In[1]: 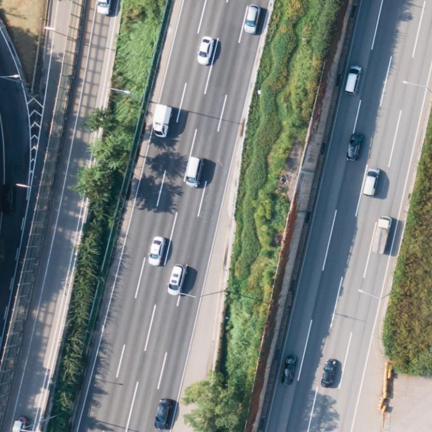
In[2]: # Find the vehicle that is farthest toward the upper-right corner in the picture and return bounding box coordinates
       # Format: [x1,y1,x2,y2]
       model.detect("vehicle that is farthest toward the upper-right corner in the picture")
[345,66,360,93]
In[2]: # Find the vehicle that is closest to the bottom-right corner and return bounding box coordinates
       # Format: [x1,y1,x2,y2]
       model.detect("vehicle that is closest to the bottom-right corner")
[321,359,337,387]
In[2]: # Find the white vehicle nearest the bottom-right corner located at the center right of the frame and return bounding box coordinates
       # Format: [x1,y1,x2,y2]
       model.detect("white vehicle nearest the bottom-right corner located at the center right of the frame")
[374,217,391,253]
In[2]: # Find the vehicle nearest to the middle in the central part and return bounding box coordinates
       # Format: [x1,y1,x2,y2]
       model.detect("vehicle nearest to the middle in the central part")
[183,158,201,187]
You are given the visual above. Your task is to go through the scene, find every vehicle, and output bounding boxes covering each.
[169,265,186,293]
[12,418,27,432]
[243,3,260,31]
[148,238,165,265]
[345,66,360,93]
[347,134,362,161]
[95,0,111,15]
[155,399,171,427]
[374,217,391,253]
[198,36,214,64]
[321,359,337,387]
[183,158,201,187]
[149,102,170,137]
[363,170,380,197]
